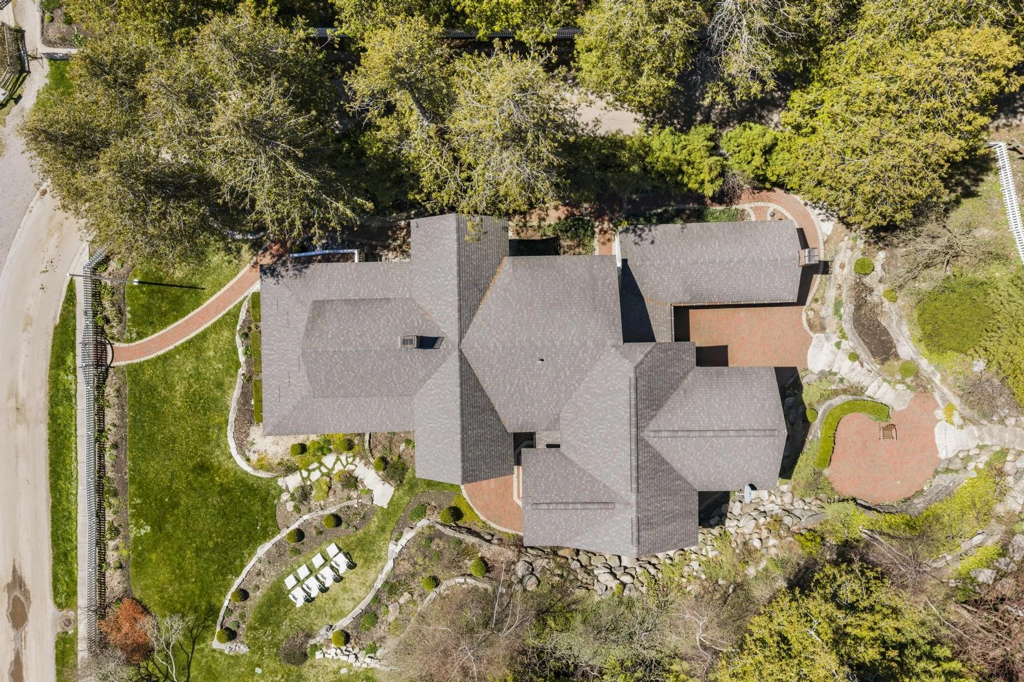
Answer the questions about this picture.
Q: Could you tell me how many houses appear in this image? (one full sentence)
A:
Just 1 house appears in this view.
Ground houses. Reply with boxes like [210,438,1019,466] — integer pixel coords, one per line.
[259,214,819,557]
